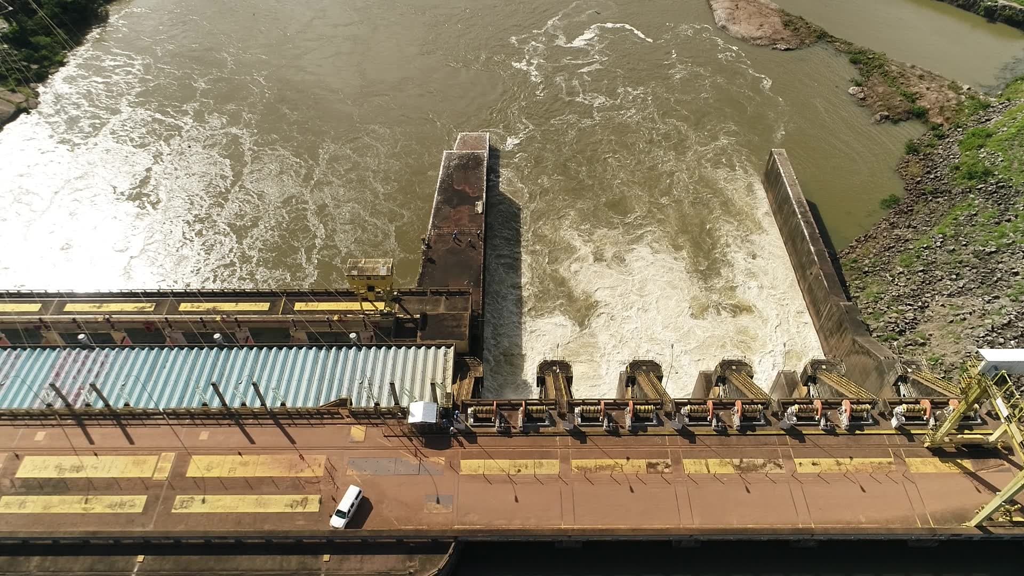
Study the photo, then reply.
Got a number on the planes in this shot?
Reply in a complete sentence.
There are no planes in this view.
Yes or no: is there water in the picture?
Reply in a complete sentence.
Yes, the picture does contain water.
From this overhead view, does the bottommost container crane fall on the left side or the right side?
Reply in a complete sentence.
The bottommost container crane is on the right side of the image.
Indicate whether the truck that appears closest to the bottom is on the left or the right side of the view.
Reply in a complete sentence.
It is on the left.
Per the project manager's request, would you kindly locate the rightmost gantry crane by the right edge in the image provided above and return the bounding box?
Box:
[929,350,1024,528]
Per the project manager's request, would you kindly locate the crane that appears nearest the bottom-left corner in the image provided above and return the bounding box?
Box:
[346,258,402,320]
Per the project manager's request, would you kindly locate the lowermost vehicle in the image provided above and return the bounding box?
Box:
[334,481,367,530]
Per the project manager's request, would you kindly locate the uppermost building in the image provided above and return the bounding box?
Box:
[0,338,457,407]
